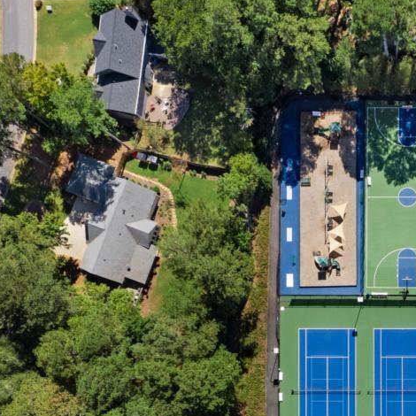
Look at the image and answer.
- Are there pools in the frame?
No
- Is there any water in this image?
No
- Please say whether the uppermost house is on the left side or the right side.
left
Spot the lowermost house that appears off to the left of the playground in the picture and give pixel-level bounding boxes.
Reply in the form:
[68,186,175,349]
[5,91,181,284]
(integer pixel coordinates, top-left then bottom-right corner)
[66,155,166,284]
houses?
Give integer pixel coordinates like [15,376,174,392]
[66,155,166,284]
[91,5,158,121]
